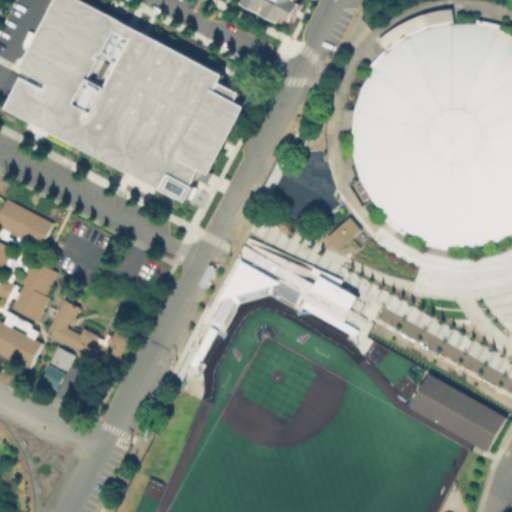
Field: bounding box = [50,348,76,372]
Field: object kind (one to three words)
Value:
building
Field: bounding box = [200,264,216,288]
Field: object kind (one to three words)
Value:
vehicle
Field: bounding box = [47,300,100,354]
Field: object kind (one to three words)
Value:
house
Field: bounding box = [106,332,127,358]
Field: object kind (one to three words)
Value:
house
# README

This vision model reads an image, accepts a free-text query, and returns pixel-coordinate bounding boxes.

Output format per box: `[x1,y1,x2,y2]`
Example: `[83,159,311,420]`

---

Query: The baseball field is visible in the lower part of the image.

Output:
[157,297,484,512]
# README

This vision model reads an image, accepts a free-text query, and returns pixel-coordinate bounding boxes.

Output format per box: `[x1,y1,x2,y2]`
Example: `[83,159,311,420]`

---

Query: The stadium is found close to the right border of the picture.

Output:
[347,25,512,248]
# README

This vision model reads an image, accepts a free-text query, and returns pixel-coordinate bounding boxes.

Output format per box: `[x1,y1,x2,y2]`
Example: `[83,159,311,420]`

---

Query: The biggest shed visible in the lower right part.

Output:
[410,374,507,452]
